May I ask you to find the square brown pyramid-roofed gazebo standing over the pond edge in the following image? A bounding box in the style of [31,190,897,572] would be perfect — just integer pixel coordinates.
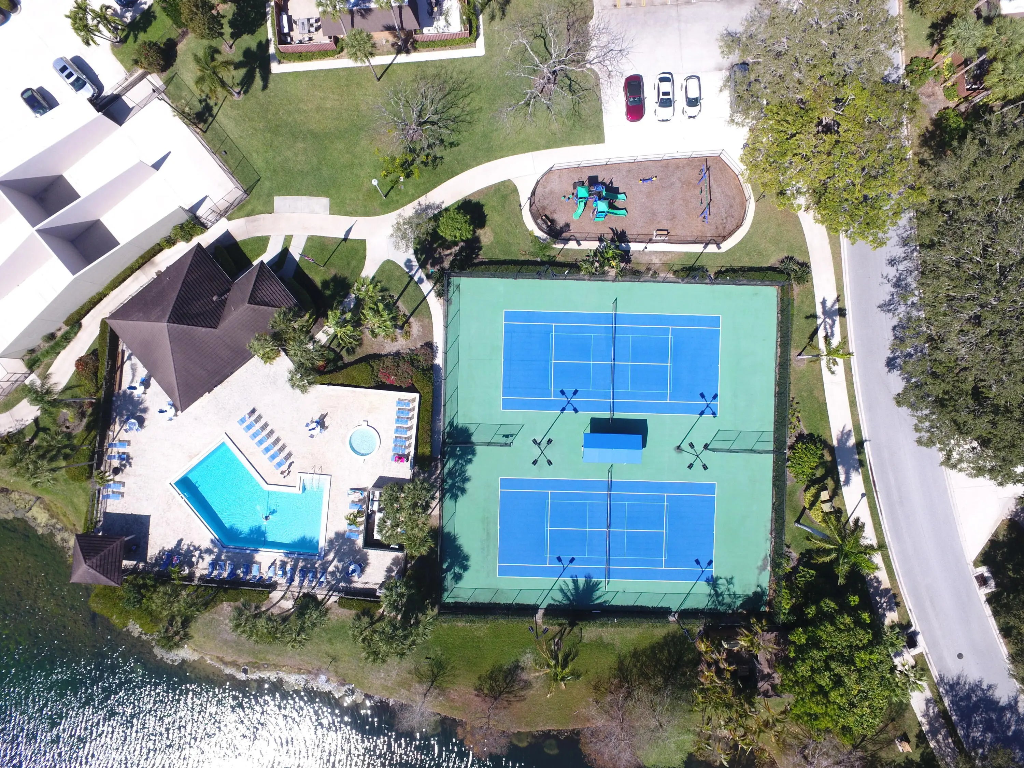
[71,532,134,586]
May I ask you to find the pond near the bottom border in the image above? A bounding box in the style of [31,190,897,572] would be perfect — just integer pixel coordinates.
[0,505,775,768]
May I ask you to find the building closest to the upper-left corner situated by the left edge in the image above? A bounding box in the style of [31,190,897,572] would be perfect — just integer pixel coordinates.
[0,99,110,172]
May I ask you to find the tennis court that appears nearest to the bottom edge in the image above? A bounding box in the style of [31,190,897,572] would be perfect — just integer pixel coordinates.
[440,441,773,614]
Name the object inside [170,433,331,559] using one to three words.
swimming pool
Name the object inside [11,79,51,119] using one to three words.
car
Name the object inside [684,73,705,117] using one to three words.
car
